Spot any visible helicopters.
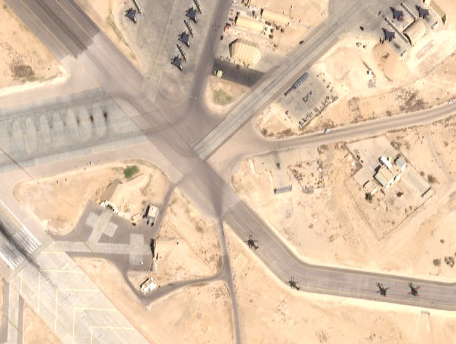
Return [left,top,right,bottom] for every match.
[408,283,421,297]
[244,235,257,249]
[377,282,389,296]
[287,278,301,290]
